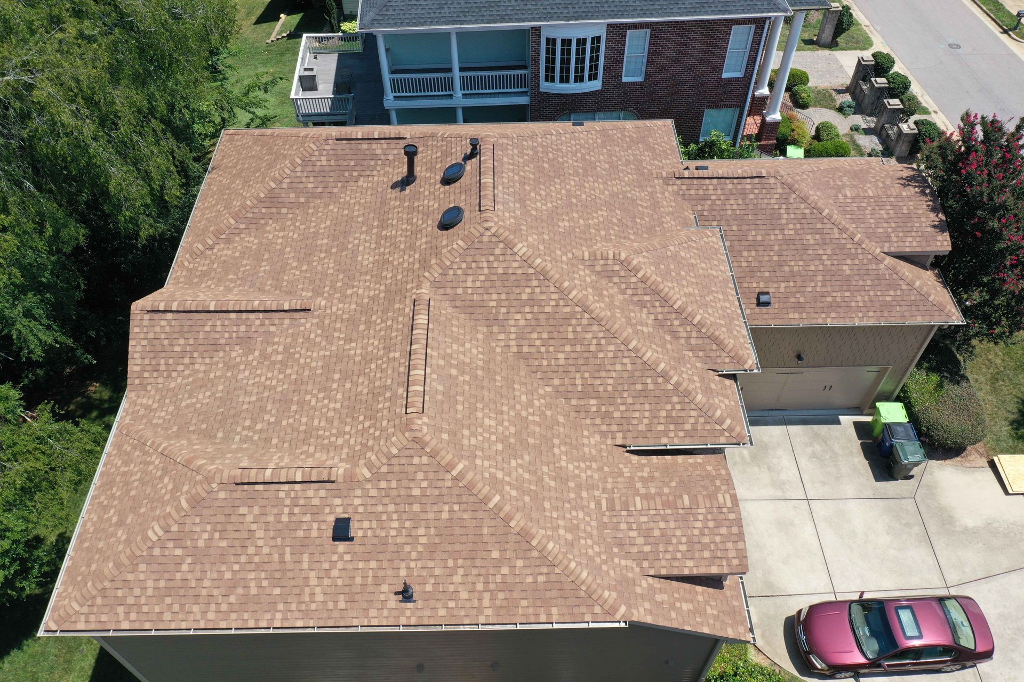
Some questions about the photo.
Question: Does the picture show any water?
No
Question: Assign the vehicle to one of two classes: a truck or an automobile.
automobile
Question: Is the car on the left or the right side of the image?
right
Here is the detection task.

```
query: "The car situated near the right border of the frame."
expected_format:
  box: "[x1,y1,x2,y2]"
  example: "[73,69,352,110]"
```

[795,588,999,681]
